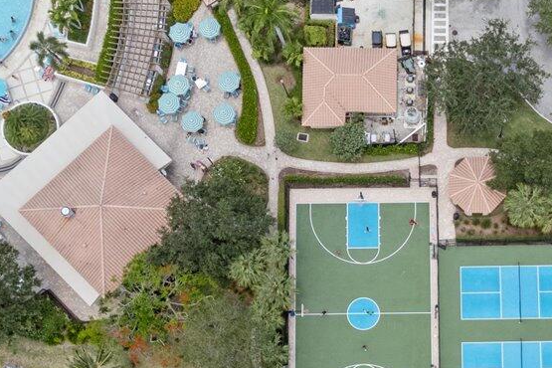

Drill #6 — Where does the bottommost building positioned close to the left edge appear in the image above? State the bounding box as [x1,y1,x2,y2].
[0,92,196,305]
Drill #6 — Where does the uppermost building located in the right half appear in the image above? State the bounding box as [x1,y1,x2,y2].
[302,47,397,133]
